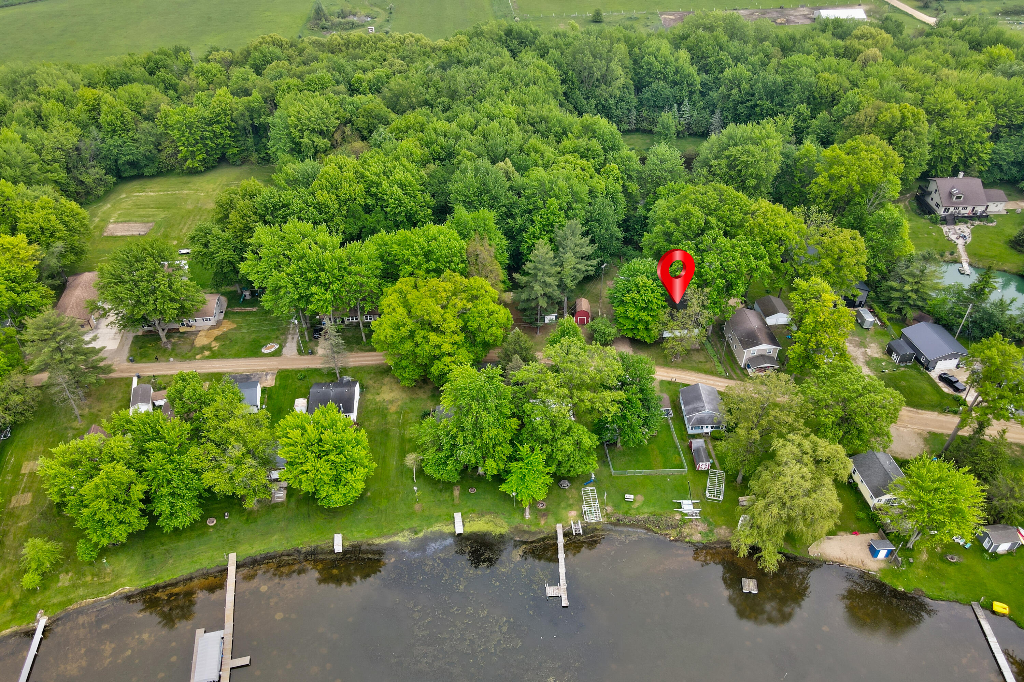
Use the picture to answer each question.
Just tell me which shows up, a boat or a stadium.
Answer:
boat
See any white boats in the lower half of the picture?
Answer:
Yes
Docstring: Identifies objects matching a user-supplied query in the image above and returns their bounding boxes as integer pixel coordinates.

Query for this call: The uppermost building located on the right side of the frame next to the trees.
[810,9,869,22]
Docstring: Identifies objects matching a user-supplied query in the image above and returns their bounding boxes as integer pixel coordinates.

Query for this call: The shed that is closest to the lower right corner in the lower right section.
[976,524,1023,553]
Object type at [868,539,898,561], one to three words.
shed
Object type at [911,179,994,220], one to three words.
house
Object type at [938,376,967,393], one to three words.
vehicle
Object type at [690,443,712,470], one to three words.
shed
